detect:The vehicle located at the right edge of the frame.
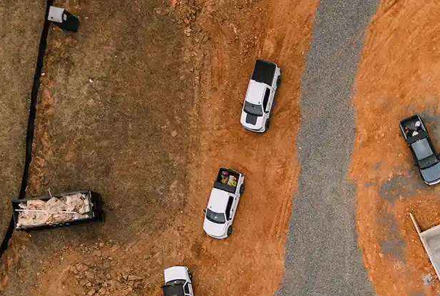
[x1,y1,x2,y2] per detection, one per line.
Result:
[397,113,440,186]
